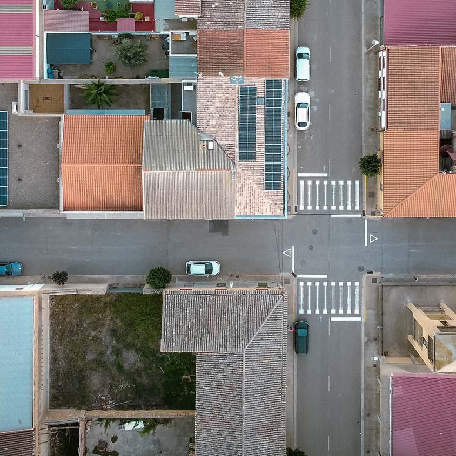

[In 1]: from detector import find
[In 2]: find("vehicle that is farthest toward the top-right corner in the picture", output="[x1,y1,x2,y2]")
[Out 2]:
[294,45,311,81]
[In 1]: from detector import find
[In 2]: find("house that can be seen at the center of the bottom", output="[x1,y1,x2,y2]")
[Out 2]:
[161,282,287,456]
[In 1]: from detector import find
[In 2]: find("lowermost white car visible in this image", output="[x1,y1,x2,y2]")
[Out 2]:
[186,260,220,277]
